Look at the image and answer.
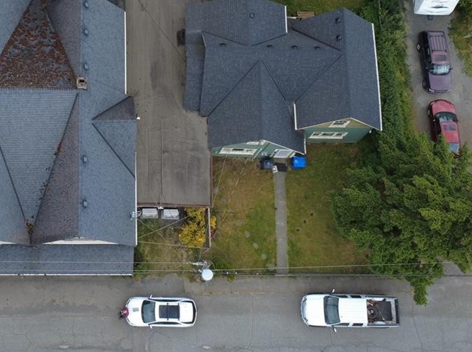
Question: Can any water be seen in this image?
No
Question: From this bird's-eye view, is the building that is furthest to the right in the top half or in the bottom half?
top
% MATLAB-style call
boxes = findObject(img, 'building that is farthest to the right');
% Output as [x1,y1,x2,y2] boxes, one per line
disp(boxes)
[185,0,384,166]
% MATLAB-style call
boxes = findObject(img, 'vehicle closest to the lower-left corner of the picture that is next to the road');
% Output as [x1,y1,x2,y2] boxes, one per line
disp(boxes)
[124,294,197,332]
